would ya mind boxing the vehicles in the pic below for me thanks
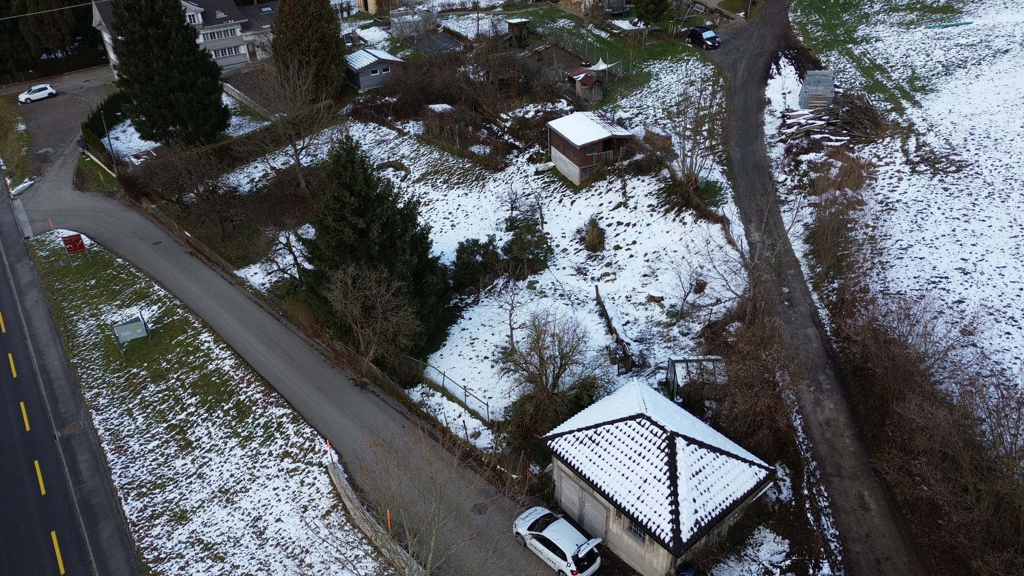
[15,80,58,103]
[513,506,609,576]
[686,28,720,48]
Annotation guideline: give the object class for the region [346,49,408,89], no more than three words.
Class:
shed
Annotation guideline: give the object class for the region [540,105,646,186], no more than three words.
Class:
shed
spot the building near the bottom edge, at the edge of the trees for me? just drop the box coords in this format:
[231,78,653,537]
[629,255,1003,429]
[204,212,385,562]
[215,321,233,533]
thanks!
[537,382,779,576]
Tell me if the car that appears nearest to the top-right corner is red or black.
black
